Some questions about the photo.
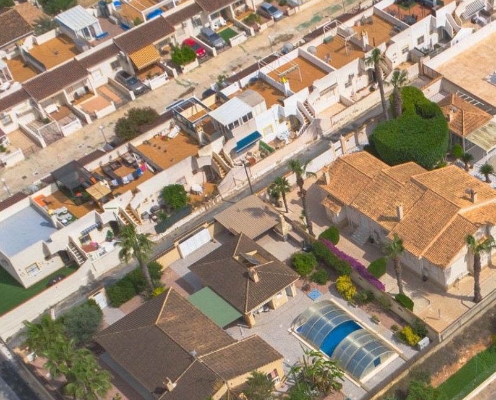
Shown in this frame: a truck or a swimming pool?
swimming pool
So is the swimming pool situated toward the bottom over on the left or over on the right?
right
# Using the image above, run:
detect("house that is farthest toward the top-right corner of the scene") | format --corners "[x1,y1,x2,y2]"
[374,0,462,55]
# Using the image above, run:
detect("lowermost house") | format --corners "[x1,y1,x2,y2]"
[85,289,284,400]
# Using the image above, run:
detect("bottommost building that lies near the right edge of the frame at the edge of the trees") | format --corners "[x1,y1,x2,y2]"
[313,150,496,289]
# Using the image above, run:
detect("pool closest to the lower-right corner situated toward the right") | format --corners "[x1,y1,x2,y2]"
[289,299,401,384]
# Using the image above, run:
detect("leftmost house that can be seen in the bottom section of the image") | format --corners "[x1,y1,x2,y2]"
[0,200,71,288]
